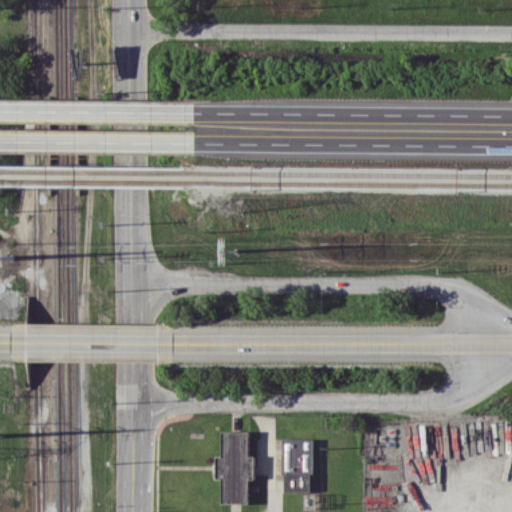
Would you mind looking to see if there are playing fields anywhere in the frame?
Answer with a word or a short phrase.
No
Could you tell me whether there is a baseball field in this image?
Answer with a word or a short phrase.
No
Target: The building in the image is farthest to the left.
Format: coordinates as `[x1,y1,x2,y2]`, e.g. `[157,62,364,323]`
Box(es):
[212,433,256,504]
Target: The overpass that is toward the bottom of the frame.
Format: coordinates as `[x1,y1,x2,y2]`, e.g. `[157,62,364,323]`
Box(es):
[10,324,173,364]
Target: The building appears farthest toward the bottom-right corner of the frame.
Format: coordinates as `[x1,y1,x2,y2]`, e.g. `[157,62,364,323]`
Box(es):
[278,440,314,492]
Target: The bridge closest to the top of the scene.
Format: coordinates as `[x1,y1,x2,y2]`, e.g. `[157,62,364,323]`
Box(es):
[0,100,194,124]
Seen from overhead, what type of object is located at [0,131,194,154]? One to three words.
bridge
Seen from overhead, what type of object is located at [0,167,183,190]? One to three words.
bridge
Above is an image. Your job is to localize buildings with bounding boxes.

[278,440,314,492]
[212,433,256,504]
